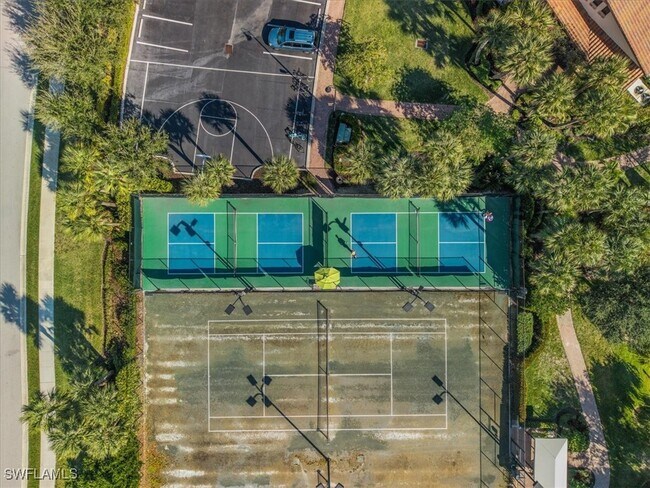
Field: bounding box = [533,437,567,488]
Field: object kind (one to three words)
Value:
gazebo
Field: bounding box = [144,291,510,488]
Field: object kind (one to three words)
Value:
tennis court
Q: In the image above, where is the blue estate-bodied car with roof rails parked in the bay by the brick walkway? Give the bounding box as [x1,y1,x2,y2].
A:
[267,26,317,53]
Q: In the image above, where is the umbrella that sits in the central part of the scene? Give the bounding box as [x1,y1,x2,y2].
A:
[314,268,338,292]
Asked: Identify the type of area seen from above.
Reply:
sports ground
